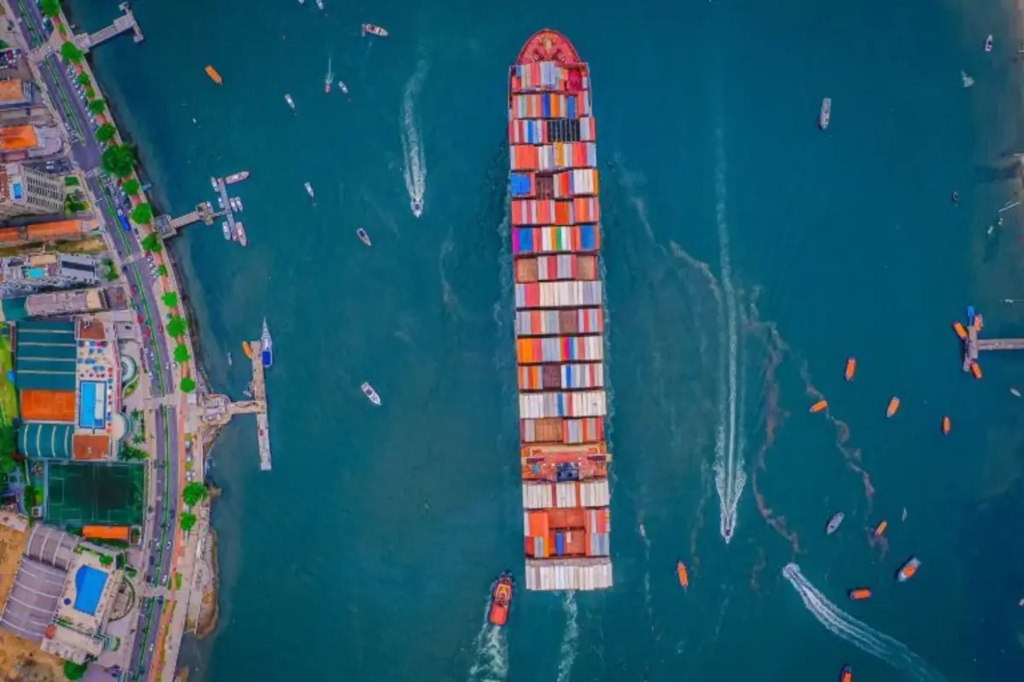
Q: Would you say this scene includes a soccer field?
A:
Yes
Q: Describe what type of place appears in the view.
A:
port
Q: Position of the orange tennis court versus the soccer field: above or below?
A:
above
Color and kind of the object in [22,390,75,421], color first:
orange tennis court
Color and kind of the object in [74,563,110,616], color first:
blue swimming pool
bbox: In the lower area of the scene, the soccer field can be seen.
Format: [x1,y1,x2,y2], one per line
[42,463,144,526]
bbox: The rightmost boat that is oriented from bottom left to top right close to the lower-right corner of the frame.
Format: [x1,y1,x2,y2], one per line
[899,556,922,581]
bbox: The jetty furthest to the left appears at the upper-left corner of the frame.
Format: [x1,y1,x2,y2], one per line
[73,1,147,54]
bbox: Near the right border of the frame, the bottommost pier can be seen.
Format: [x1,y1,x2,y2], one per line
[959,306,1024,372]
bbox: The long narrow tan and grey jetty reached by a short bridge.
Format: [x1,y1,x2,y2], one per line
[230,342,273,470]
